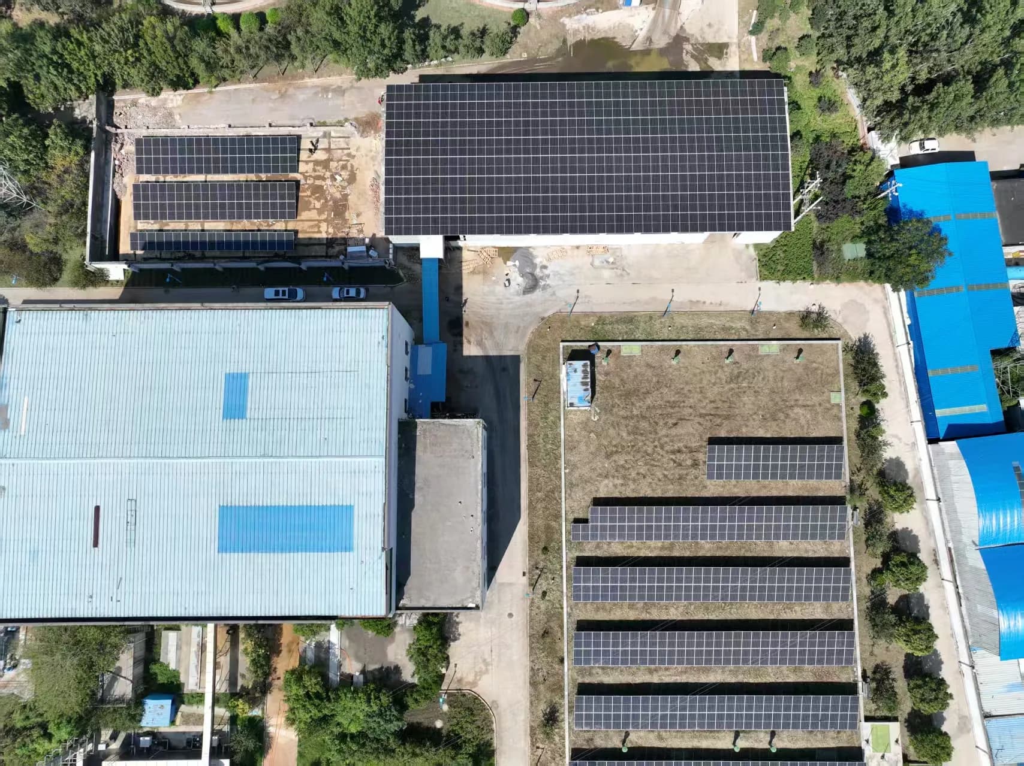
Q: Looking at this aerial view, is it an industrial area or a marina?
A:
industrial area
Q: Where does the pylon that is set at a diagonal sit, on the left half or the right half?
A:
left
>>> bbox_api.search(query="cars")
[331,285,365,301]
[263,285,304,301]
[909,136,944,154]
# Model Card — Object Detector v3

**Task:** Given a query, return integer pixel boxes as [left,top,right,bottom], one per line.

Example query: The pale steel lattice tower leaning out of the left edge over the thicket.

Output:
[0,177,26,201]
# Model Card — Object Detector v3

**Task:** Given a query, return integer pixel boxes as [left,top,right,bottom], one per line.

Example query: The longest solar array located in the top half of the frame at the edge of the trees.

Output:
[384,79,791,235]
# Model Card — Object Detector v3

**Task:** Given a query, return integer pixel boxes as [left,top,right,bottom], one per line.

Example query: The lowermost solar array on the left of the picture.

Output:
[130,232,294,251]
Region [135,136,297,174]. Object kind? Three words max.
solar array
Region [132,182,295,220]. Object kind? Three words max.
solar array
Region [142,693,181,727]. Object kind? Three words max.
shed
